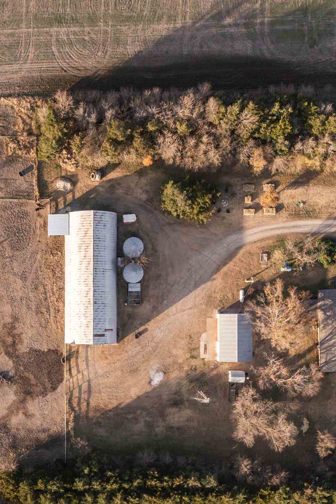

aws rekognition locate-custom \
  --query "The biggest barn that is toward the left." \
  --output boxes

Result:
[65,209,117,345]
